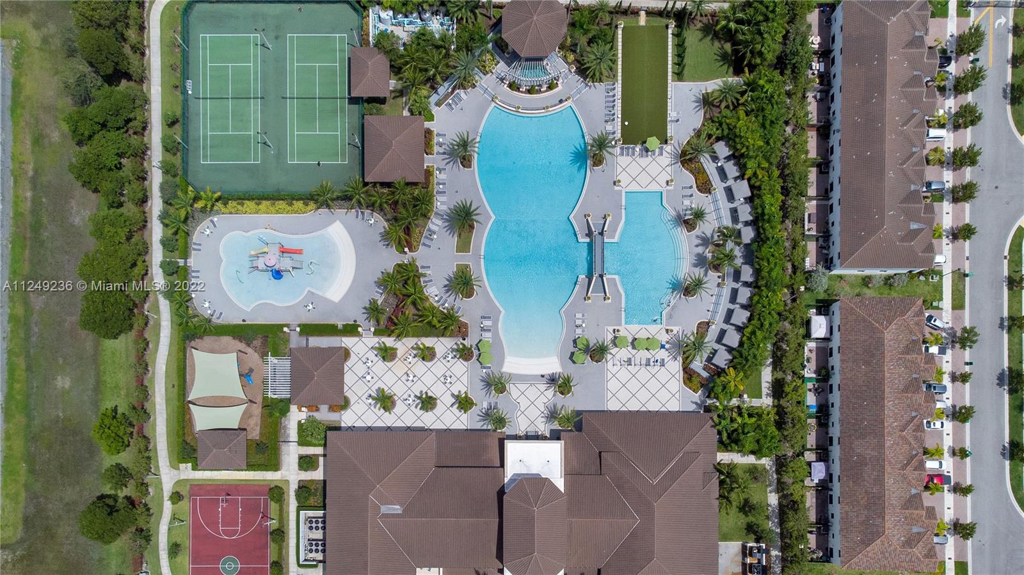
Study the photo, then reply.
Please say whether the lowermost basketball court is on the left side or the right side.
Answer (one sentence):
It is on the left.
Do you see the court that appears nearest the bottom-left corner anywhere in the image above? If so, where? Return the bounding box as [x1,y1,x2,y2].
[190,484,269,575]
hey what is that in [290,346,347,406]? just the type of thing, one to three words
building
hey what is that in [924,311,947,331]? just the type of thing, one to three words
car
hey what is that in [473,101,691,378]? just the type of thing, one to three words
swimming pool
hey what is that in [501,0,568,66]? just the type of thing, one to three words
gazebo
